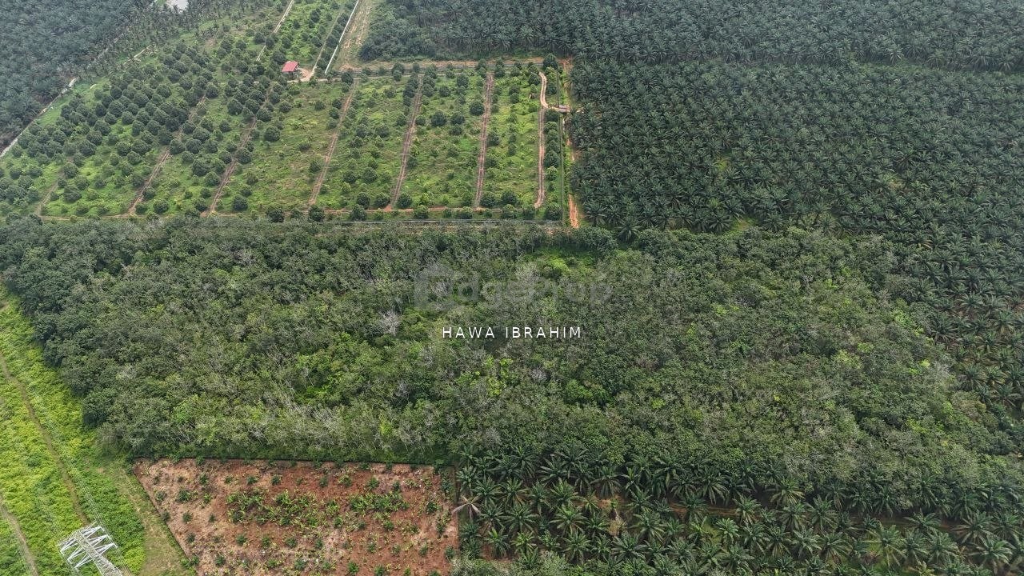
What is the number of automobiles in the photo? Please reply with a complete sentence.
No automobiles are visible.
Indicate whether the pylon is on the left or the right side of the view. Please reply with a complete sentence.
You can find the pylon on the left side of the picture.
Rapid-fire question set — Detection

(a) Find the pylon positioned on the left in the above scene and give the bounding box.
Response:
[52,518,145,576]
